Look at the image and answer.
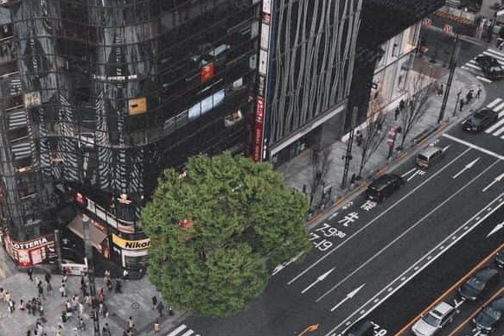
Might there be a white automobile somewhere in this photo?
Yes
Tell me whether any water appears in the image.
No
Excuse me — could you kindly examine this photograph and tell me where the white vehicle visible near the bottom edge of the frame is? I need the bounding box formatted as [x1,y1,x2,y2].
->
[409,301,458,336]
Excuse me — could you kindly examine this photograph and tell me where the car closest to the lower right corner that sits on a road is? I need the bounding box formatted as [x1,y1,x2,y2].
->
[464,295,504,336]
